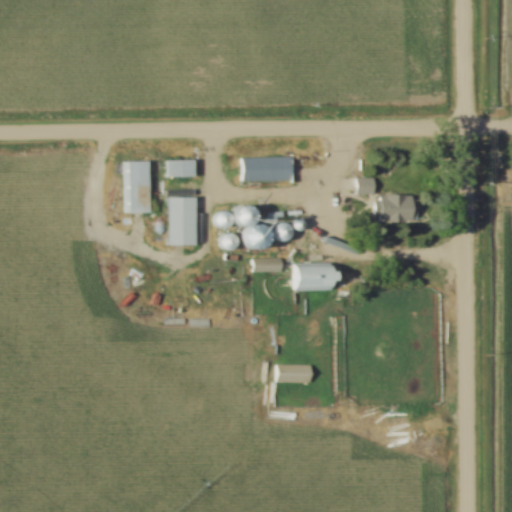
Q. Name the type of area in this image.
farmland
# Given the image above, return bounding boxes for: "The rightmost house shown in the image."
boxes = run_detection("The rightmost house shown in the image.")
[376,192,416,224]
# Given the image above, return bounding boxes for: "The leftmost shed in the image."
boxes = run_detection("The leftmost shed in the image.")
[123,160,152,214]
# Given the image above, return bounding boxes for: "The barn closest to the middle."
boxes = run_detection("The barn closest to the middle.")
[250,258,284,273]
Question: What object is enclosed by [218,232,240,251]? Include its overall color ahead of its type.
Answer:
white silo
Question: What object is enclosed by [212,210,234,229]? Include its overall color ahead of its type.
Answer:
white silo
